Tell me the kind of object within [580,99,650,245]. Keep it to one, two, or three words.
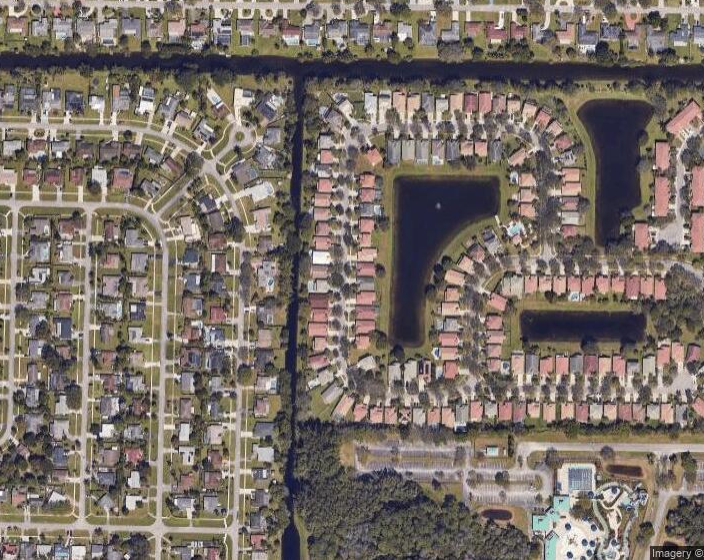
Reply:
pond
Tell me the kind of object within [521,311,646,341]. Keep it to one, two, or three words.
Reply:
pond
